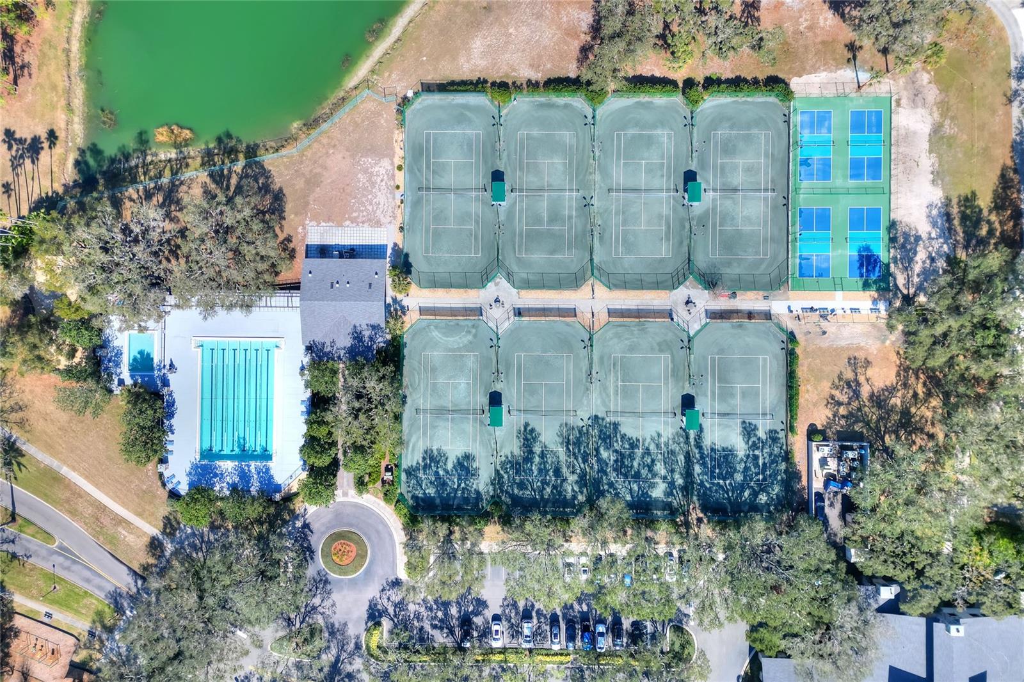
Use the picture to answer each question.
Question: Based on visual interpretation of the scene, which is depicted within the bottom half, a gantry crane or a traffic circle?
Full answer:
What appears within the bottom half is a traffic circle.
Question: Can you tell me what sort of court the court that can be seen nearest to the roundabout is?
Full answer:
I'd say the court that can be seen nearest to the roundabout is a tennis court.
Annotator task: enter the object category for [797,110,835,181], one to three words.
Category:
sports court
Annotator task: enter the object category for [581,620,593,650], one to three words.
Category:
vehicle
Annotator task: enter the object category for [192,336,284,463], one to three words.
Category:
swimming pool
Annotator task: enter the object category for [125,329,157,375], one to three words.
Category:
swimming pool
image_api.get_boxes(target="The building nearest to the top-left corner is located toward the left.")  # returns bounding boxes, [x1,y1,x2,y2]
[300,259,388,362]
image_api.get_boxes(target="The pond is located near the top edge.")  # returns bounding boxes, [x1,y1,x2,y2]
[98,0,400,149]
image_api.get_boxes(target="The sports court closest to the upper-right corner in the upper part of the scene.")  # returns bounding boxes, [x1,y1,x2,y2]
[848,110,887,180]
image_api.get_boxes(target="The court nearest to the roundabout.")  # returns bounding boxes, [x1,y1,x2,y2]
[400,320,496,514]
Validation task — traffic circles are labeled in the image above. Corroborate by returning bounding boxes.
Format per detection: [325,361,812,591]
[319,528,369,577]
